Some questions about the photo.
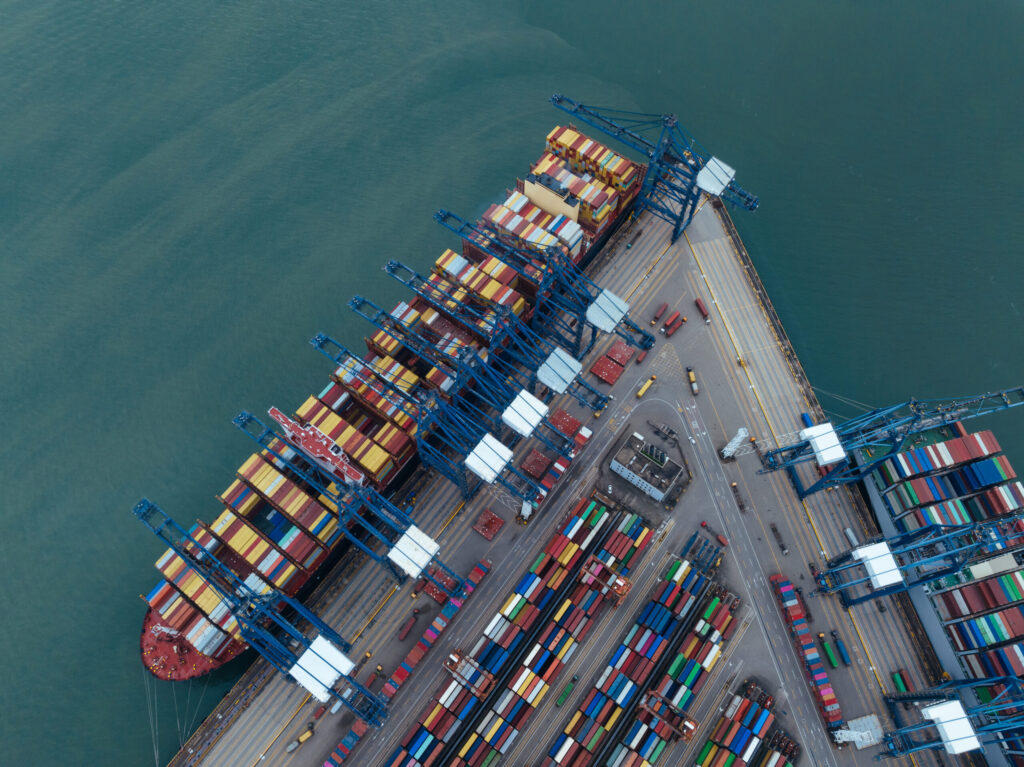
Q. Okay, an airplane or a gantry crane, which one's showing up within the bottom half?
gantry crane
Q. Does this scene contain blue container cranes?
Yes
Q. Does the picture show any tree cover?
No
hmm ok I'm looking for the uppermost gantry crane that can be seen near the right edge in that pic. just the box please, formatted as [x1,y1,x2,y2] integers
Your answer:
[763,387,1024,503]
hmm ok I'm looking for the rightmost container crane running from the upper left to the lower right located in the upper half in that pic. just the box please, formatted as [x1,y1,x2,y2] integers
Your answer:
[547,92,759,243]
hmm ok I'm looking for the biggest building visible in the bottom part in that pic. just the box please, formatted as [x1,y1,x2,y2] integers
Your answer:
[610,429,684,501]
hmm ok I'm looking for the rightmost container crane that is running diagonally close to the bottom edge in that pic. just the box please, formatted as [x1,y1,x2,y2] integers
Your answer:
[632,686,699,746]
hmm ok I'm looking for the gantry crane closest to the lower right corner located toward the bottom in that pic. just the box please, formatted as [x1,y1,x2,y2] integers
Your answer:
[881,670,1024,757]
